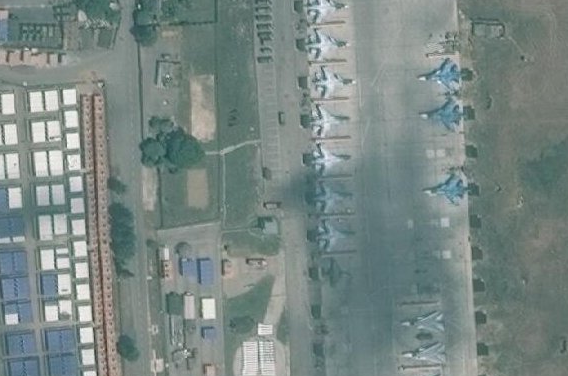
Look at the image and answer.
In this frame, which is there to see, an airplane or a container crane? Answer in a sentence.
The image shows an airplane.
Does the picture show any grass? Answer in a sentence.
Yes, the picture does contain grass.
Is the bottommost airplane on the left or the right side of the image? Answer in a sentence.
It is on the right.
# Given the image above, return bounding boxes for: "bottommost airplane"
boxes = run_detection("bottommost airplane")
[403,344,445,364]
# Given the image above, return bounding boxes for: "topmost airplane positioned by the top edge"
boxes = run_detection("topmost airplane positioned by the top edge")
[305,0,348,21]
